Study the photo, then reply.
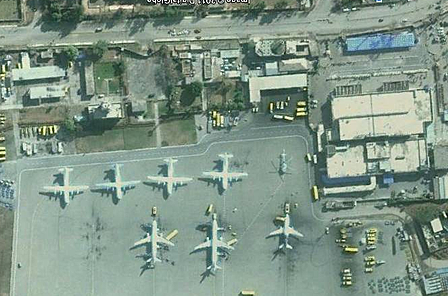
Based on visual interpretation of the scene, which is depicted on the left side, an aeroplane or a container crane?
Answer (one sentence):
Looking on the left side, you will find an aeroplane.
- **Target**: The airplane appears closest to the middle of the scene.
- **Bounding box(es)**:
[203,153,249,189]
